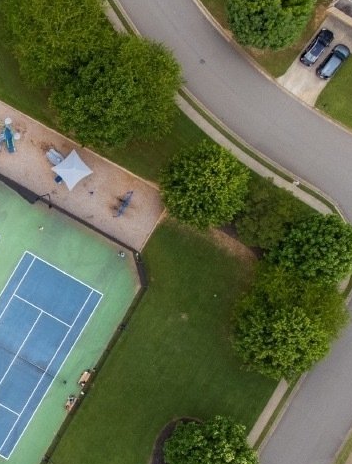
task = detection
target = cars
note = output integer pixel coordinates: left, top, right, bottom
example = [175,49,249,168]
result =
[298,29,333,67]
[315,42,349,81]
